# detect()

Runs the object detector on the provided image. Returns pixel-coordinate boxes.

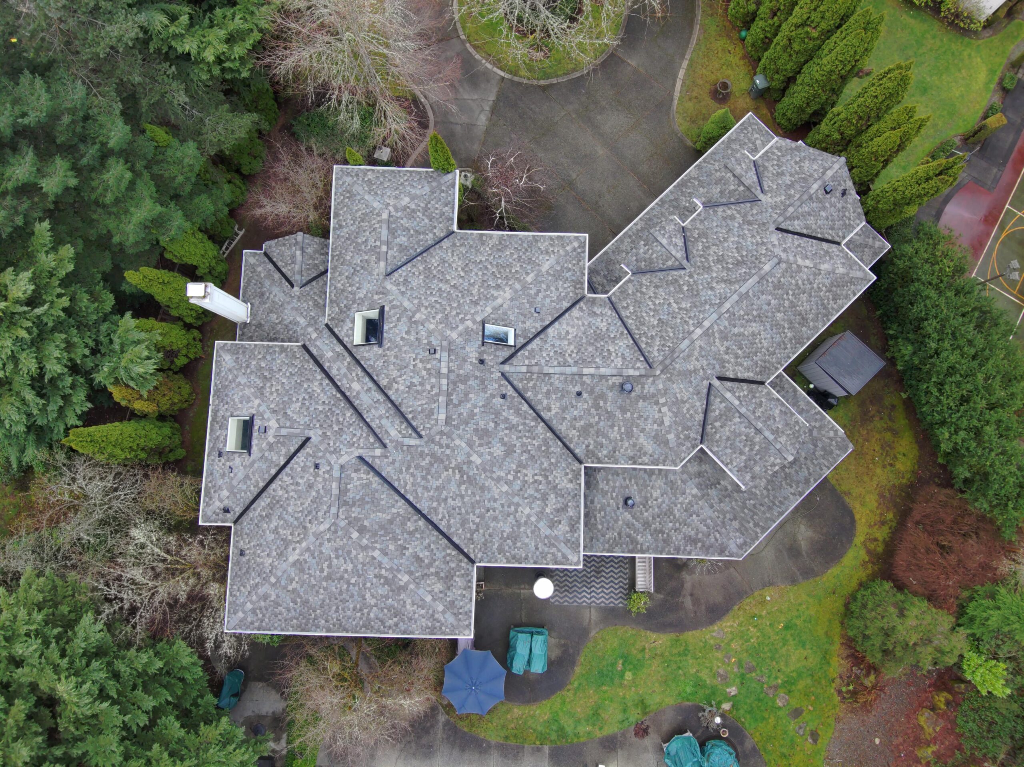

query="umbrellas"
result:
[442,649,507,716]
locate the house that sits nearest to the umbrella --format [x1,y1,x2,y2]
[187,110,894,640]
